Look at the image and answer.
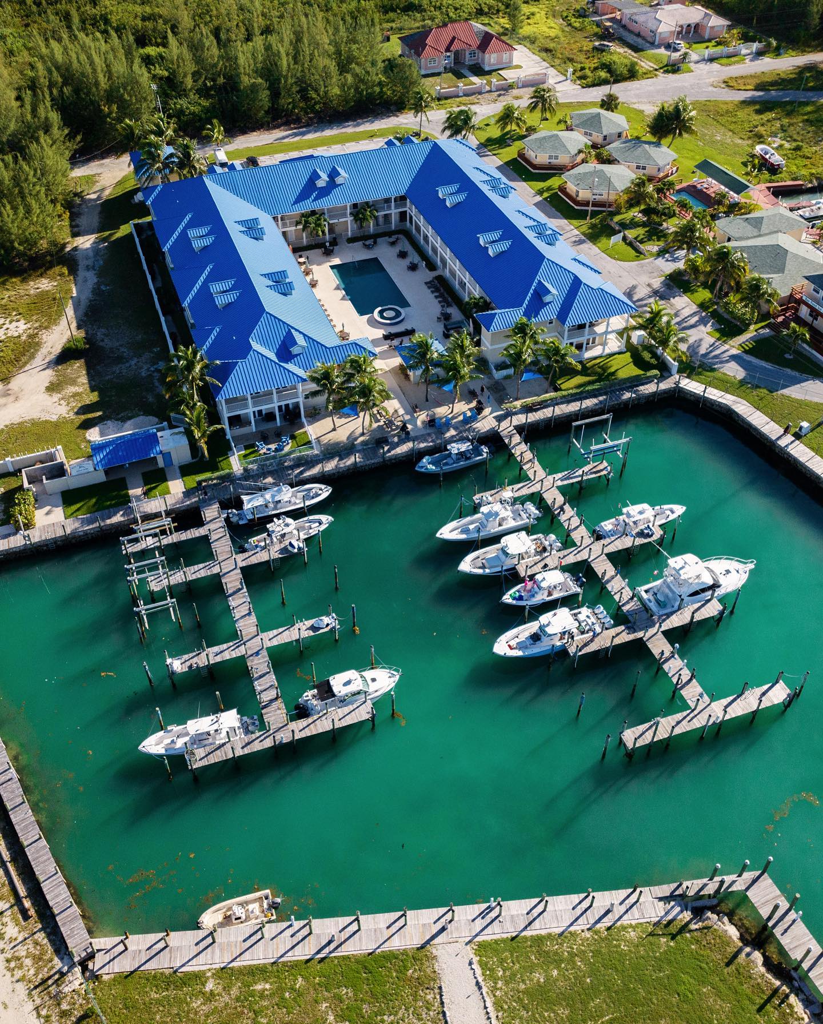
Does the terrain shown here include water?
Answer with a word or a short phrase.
Yes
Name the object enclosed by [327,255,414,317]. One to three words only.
swimming pool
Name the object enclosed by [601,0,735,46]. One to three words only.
house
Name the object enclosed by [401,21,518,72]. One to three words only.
house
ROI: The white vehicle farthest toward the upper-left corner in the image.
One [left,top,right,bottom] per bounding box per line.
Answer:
[212,142,230,167]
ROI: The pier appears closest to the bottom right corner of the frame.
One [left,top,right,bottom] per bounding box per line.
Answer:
[742,868,823,1002]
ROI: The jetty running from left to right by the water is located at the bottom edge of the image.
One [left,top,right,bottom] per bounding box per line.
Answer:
[93,870,762,975]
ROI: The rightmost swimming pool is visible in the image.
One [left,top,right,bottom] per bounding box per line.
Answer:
[672,190,707,208]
